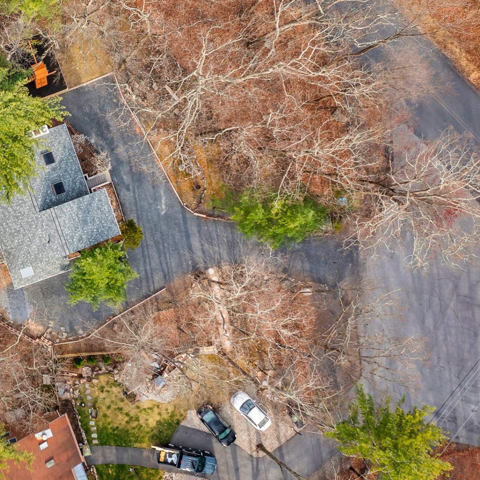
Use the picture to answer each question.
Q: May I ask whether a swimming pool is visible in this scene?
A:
No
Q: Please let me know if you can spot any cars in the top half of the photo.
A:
No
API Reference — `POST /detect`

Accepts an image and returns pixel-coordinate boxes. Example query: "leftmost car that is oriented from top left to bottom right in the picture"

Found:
[196,405,242,453]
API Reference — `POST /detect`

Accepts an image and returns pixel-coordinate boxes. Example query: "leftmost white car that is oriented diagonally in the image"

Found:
[228,386,278,440]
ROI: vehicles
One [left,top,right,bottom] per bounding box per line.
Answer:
[149,448,223,480]
[196,405,242,453]
[228,386,278,440]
